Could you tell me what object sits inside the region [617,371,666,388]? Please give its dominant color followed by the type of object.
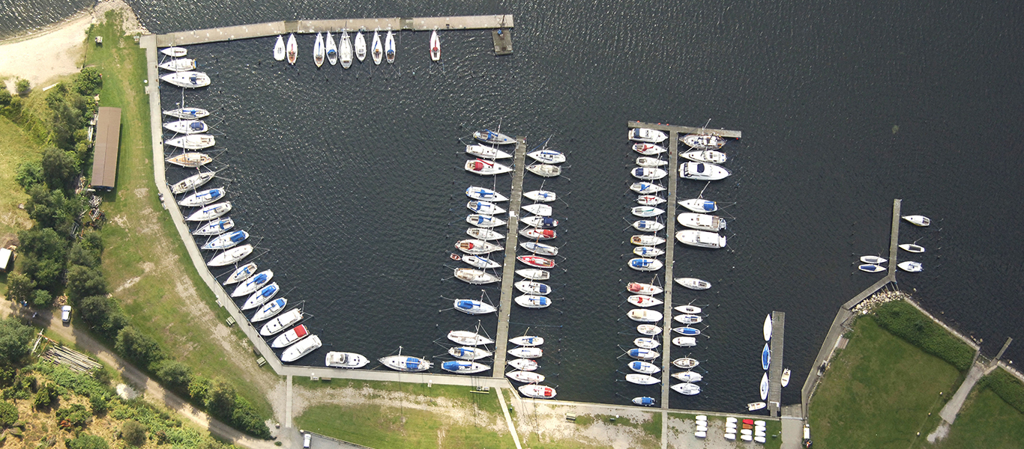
white boat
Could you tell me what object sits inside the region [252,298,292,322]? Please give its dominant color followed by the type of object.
white boat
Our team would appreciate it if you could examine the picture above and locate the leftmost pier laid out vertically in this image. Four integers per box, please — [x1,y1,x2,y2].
[493,136,526,377]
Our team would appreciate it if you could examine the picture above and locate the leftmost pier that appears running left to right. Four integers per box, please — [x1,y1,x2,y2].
[175,20,285,46]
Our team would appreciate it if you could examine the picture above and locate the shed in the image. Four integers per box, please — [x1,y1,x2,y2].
[91,107,122,189]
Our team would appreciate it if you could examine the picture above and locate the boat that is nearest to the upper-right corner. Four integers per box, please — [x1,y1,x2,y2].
[900,213,939,229]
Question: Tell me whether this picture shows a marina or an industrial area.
marina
